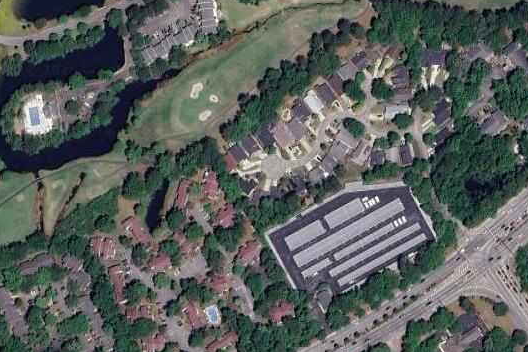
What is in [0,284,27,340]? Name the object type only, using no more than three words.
building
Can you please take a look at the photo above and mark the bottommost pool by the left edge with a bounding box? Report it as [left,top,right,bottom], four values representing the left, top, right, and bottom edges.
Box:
[24,94,52,135]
